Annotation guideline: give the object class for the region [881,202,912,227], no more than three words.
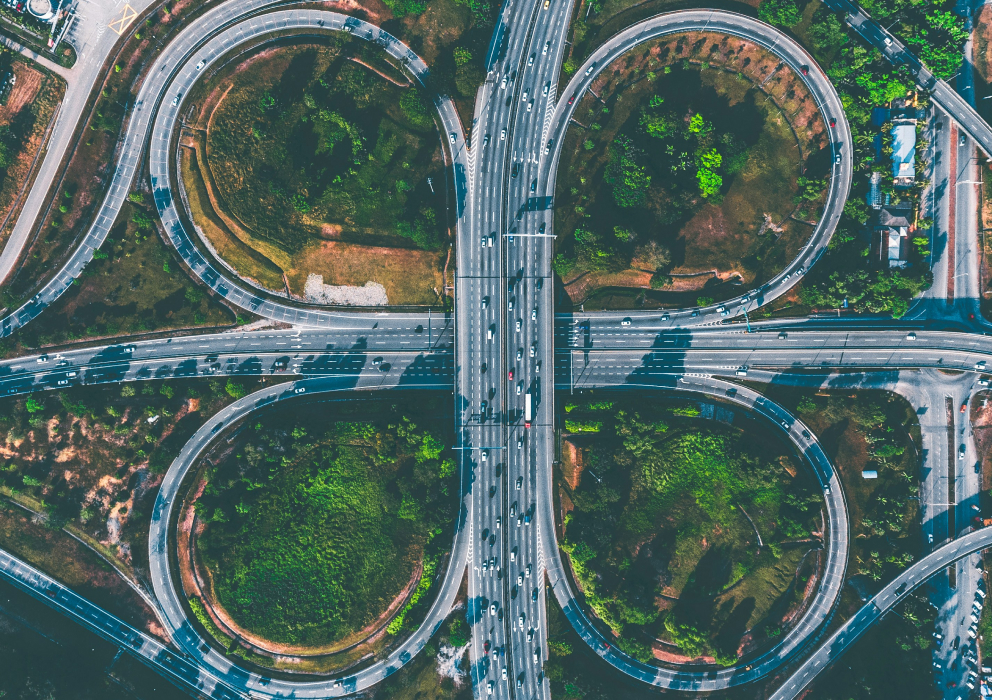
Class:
building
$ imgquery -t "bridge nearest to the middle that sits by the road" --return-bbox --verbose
[455,0,574,700]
